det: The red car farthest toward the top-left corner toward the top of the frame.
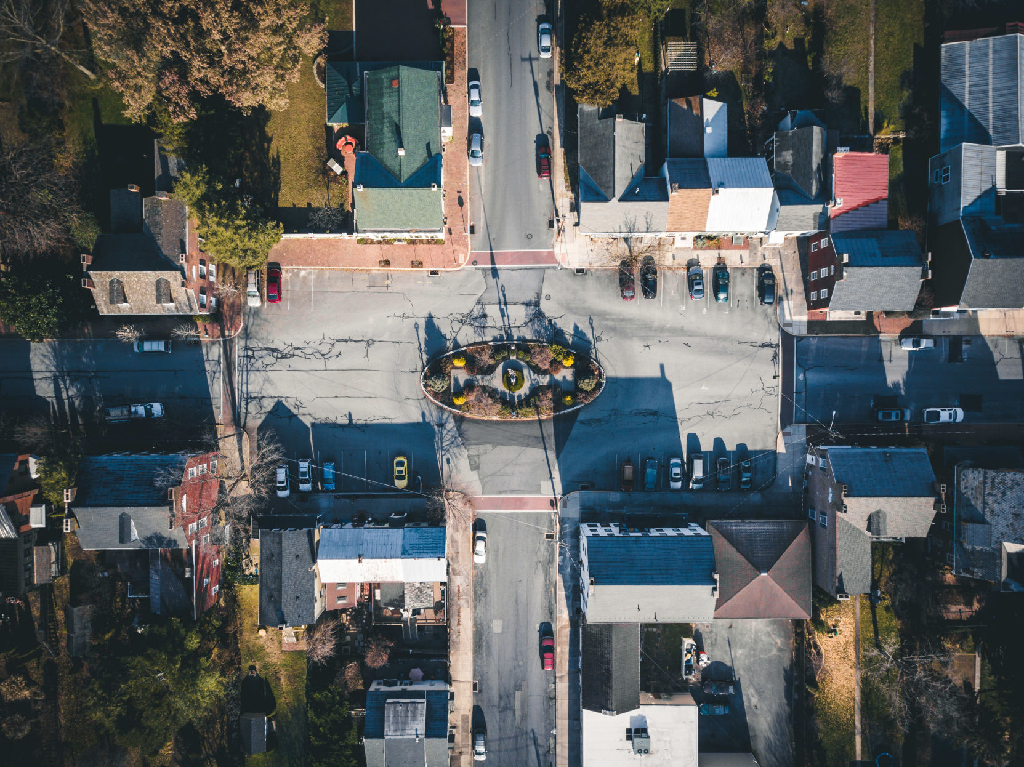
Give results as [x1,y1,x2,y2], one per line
[265,266,283,304]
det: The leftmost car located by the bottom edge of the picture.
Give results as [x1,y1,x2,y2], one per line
[471,726,488,759]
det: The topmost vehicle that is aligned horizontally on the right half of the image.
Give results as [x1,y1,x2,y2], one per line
[899,335,935,352]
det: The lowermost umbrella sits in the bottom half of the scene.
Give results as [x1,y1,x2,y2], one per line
[409,667,423,681]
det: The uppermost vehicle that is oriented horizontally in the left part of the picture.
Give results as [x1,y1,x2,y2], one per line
[133,337,174,355]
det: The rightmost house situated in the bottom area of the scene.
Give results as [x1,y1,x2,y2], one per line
[930,447,1024,595]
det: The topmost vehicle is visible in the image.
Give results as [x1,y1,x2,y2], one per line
[537,22,554,61]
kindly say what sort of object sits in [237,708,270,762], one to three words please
building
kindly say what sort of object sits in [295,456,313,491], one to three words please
car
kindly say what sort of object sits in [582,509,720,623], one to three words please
house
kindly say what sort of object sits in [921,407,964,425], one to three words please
vehicle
